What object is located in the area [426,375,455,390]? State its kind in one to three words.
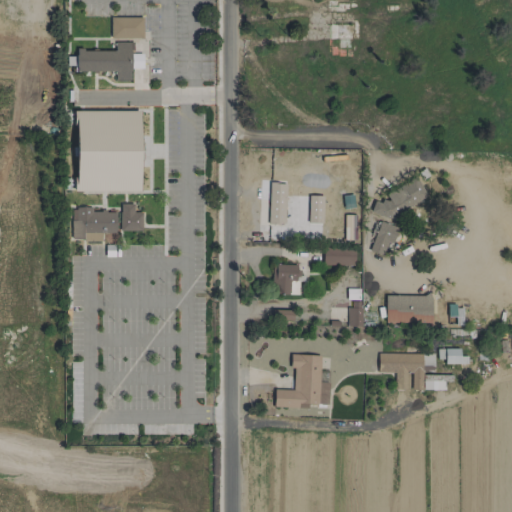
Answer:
shed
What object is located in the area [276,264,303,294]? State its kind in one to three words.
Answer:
house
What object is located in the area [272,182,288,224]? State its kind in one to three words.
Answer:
building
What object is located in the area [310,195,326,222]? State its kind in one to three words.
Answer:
building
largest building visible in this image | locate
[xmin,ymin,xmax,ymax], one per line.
[77,111,144,194]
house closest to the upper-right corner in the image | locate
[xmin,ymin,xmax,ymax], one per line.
[376,180,426,213]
